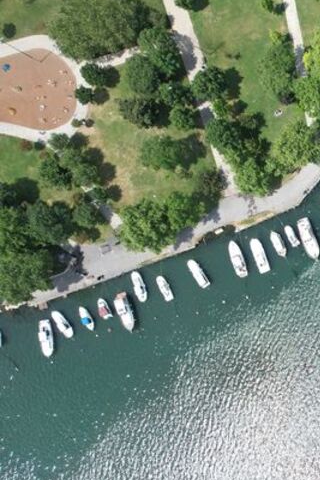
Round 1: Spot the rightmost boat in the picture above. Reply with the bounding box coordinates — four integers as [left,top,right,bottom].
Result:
[296,203,320,261]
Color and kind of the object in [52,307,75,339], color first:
white boat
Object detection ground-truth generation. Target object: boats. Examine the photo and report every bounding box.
[130,271,149,304]
[270,231,286,257]
[52,307,75,339]
[229,235,251,281]
[296,203,320,261]
[78,308,95,331]
[188,250,211,290]
[285,226,301,248]
[38,316,54,358]
[114,280,136,334]
[98,295,114,321]
[154,270,175,302]
[246,229,271,275]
